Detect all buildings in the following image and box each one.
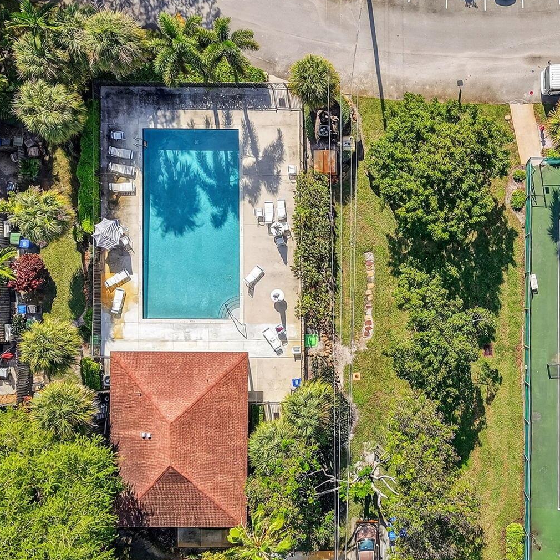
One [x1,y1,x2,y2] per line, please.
[314,149,339,177]
[109,350,250,529]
